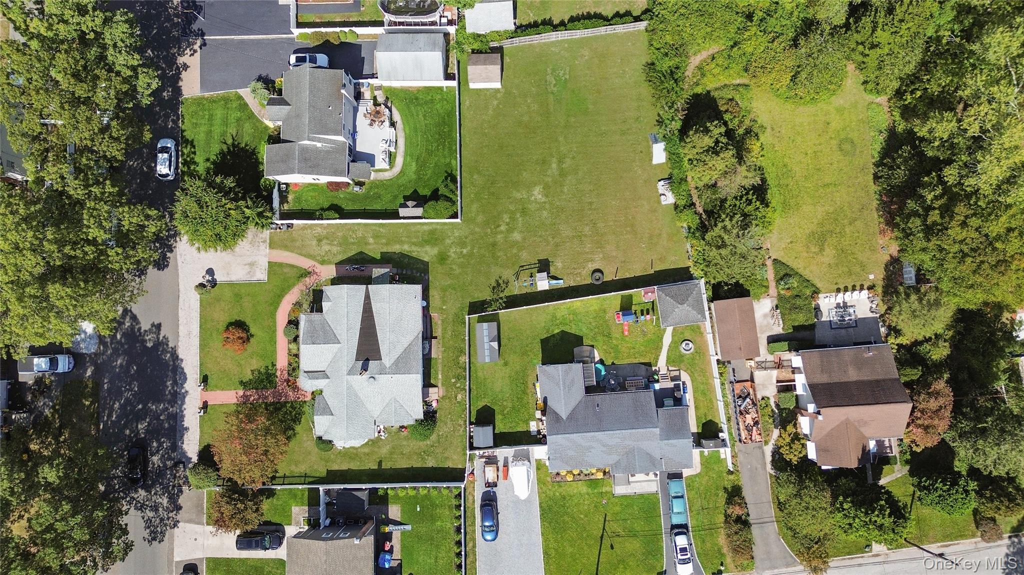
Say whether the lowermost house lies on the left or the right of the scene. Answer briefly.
left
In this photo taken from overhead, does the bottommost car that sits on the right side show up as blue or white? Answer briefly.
white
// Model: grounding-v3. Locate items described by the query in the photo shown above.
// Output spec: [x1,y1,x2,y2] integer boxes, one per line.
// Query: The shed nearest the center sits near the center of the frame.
[476,322,499,363]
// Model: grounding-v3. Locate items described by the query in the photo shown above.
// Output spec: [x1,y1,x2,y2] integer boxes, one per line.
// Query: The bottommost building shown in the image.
[286,516,380,575]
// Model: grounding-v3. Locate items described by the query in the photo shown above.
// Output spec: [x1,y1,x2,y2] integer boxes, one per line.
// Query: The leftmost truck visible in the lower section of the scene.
[17,351,74,373]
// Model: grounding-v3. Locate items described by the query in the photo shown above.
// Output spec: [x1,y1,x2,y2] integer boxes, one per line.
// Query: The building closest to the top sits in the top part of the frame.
[464,0,514,39]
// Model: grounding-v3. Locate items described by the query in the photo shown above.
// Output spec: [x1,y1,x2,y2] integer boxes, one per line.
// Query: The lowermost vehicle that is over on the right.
[668,525,693,572]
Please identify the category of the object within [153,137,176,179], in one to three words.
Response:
car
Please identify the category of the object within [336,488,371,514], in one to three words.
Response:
shed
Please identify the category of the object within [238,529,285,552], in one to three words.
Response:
car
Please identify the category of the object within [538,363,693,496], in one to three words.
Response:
house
